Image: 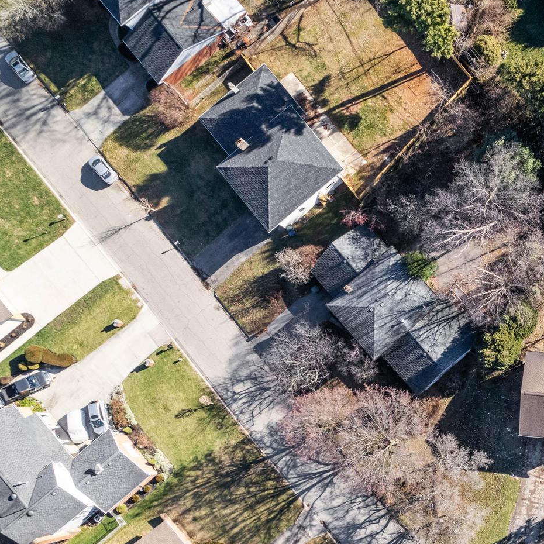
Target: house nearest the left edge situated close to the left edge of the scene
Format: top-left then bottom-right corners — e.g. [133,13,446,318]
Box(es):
[0,295,26,337]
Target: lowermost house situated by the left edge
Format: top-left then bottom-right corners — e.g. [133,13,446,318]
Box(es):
[0,378,160,544]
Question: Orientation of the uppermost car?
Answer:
at an angle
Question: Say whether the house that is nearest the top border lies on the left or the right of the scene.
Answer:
left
